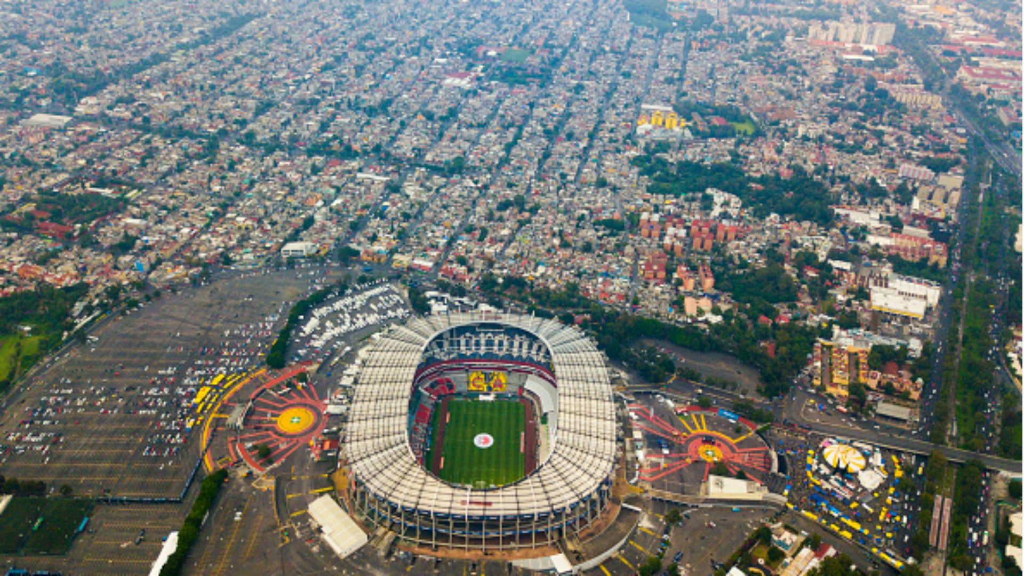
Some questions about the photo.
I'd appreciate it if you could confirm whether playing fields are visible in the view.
Yes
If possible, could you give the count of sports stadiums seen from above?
1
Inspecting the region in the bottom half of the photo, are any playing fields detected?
Yes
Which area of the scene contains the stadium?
bottom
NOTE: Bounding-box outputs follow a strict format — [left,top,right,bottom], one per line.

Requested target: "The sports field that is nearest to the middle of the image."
[438,398,525,484]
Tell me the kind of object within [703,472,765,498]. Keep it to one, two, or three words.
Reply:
building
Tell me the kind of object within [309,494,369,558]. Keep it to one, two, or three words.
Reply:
building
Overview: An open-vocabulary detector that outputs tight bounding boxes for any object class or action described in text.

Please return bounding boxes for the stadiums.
[344,300,617,553]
